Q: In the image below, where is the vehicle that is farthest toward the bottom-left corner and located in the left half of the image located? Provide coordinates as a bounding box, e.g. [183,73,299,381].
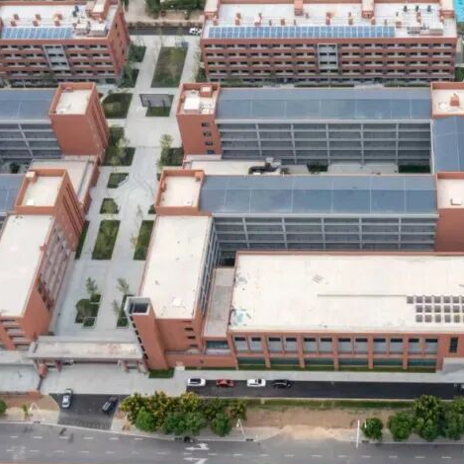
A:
[58,388,73,406]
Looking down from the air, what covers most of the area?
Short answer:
buildings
